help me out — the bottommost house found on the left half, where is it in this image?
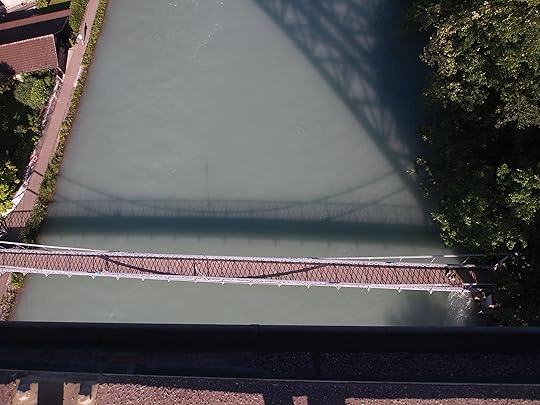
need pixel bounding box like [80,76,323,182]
[0,27,68,88]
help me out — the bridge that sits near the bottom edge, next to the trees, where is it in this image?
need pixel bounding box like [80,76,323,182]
[0,322,540,405]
